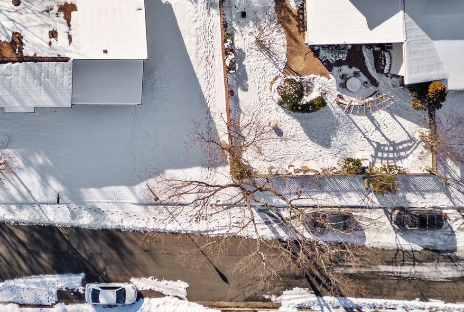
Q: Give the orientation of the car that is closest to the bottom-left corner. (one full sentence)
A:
What the image shows is the car that is closest to the bottom-left corner lying from side to side.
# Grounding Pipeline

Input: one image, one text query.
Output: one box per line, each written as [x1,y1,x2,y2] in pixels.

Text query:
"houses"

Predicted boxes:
[0,0,148,113]
[295,0,464,91]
